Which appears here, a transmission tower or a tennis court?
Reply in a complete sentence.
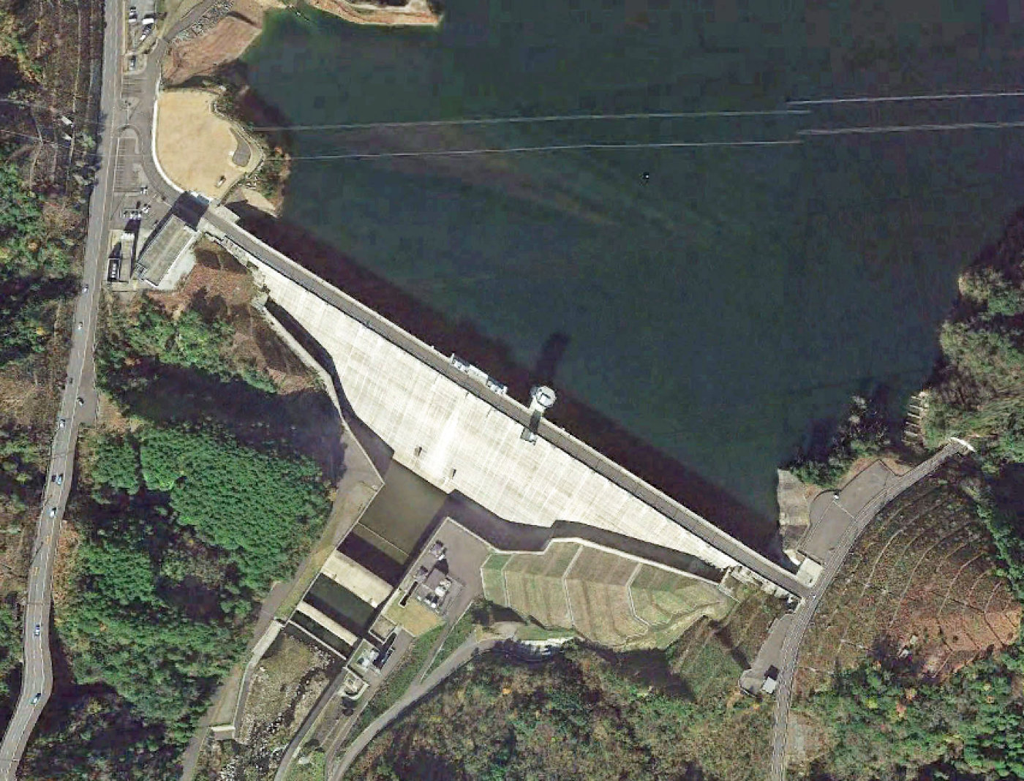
The one in the frame is a transmission tower.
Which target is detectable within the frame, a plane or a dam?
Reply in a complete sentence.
There is a dam in the scene.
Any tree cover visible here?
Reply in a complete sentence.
Yes, there's tree cover in this view.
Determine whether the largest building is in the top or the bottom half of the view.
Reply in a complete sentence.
You can find the largest building in the top half.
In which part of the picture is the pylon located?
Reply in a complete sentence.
The pylon sits in the top left section of the image.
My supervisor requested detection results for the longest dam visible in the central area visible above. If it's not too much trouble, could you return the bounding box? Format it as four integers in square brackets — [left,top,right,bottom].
[201,202,805,613]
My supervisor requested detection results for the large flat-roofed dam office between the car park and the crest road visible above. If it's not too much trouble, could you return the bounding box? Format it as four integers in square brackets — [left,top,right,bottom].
[138,215,198,287]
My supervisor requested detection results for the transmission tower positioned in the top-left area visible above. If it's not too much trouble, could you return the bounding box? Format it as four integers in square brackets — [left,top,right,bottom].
[61,117,89,148]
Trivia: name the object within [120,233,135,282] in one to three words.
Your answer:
building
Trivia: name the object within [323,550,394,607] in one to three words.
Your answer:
dam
